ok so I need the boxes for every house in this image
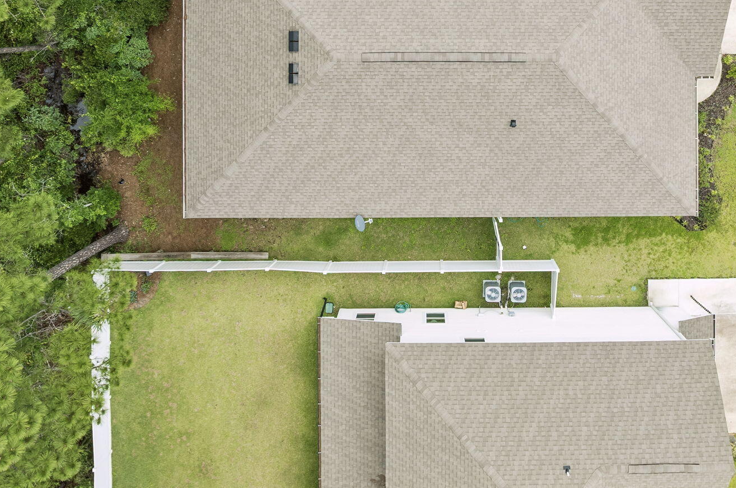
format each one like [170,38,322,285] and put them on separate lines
[318,295,734,488]
[183,0,729,220]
